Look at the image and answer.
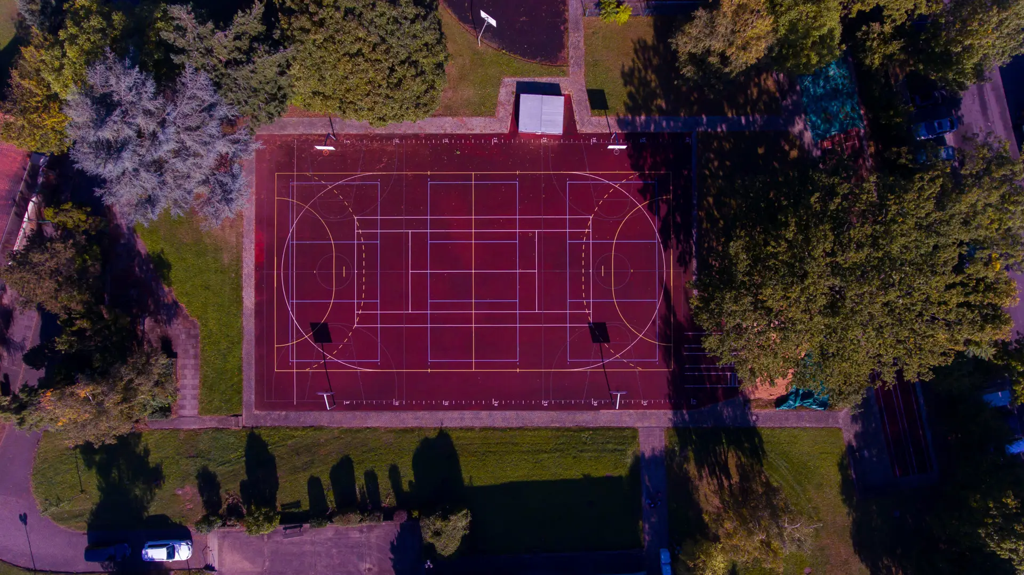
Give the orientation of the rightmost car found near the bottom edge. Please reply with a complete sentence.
In this picture, the rightmost car found near the bottom edge is oriented horizontally.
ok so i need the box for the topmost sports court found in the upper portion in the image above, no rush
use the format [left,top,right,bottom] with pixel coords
[444,0,568,66]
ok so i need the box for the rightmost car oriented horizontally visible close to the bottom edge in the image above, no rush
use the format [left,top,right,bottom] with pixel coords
[143,538,193,562]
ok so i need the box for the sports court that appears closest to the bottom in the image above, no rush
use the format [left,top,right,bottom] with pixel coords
[255,95,747,410]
